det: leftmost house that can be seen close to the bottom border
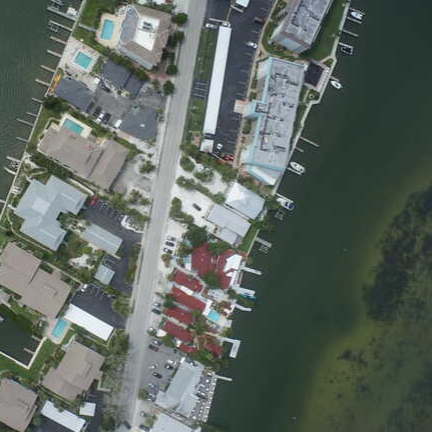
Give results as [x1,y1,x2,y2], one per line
[0,375,39,432]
